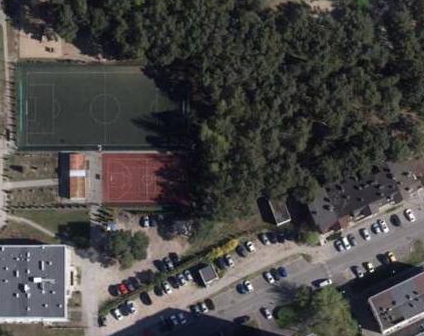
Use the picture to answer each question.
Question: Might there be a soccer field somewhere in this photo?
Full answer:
Yes, I can see a soccer field in this picture.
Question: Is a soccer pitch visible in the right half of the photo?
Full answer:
No, no soccer pitch appears in the right half of the photo.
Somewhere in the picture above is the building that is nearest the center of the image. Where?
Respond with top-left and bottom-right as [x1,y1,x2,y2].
[269,197,290,227]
